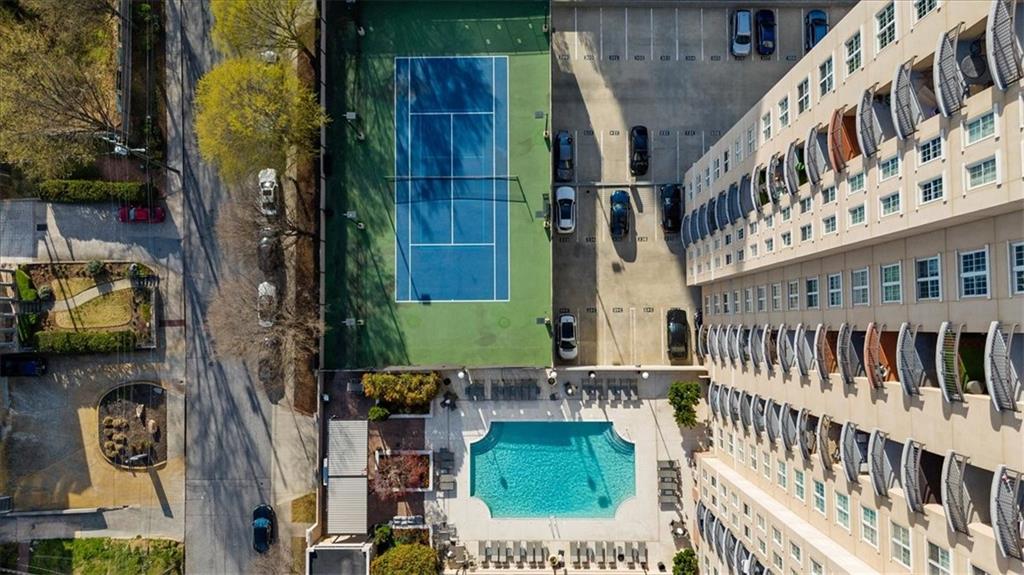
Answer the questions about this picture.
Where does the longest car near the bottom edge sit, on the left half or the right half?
left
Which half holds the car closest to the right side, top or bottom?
top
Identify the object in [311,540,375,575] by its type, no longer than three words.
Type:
building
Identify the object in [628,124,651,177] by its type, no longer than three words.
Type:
car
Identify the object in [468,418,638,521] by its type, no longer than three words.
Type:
swimming pool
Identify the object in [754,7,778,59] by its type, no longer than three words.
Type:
car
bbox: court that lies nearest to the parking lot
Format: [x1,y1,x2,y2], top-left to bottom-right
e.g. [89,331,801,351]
[337,0,551,367]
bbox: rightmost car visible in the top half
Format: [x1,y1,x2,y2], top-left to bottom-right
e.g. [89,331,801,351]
[805,8,830,51]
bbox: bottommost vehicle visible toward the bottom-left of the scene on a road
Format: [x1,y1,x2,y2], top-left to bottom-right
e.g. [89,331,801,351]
[249,501,275,555]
